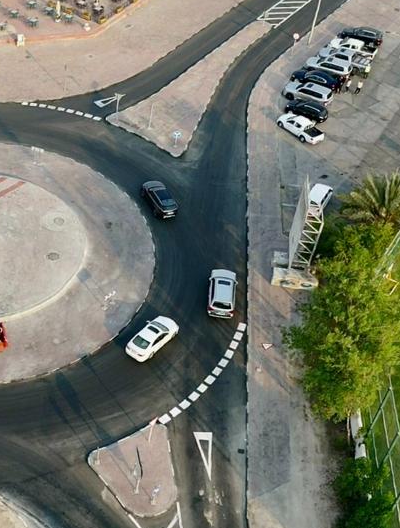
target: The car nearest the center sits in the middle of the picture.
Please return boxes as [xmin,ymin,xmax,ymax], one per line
[206,268,240,320]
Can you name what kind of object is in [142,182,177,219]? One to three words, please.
car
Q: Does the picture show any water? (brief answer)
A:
No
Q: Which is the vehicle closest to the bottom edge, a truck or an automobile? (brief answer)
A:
automobile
